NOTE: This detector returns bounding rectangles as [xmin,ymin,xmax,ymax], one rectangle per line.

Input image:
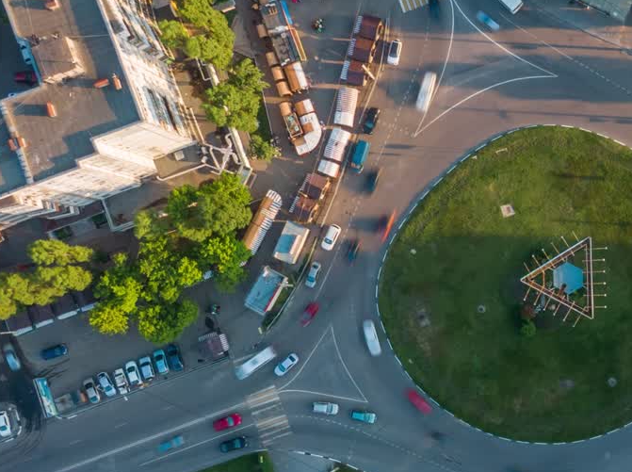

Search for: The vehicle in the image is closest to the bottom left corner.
[0,411,13,437]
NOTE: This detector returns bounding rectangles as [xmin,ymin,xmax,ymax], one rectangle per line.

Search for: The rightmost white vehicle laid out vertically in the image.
[415,72,435,111]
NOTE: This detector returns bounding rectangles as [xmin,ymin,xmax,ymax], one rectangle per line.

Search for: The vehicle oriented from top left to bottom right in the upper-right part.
[477,11,498,31]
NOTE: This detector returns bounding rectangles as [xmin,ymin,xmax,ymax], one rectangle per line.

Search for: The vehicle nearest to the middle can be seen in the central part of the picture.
[322,222,340,250]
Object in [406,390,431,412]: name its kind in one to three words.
car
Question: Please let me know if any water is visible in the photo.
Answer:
No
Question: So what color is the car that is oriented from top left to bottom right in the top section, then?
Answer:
blue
